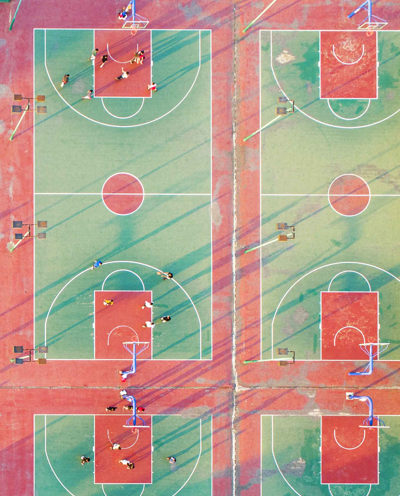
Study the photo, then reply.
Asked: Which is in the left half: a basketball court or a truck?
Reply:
basketball court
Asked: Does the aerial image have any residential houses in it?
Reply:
No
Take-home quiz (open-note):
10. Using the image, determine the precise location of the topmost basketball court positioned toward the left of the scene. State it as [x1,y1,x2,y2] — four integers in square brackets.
[34,29,211,360]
